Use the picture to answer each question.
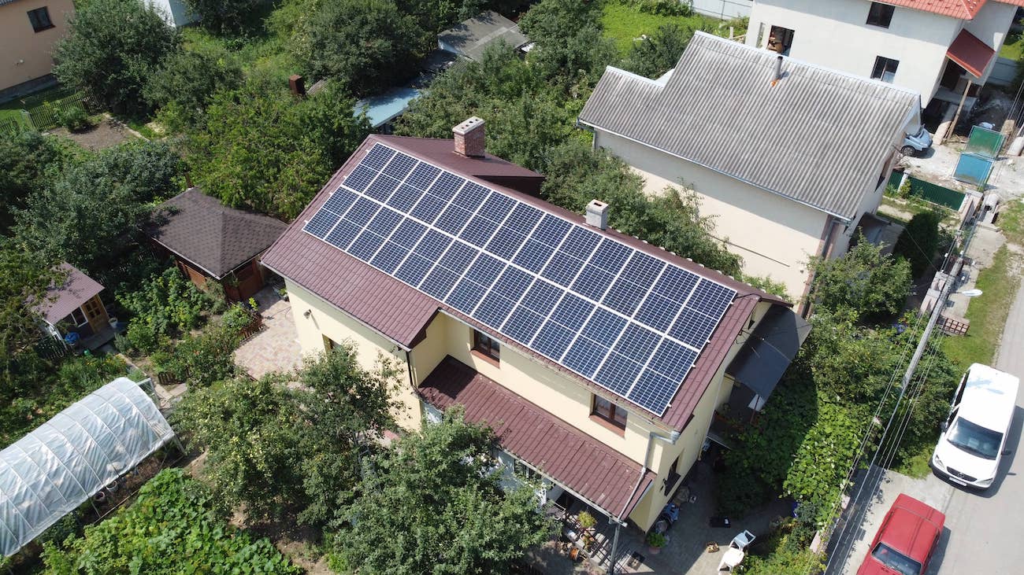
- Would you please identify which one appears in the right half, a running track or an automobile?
automobile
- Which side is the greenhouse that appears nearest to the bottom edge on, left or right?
left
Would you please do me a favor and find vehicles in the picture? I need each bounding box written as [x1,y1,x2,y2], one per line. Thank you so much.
[856,491,946,575]
[902,131,934,157]
[926,359,1021,486]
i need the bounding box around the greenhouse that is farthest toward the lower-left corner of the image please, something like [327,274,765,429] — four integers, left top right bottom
[0,371,183,575]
